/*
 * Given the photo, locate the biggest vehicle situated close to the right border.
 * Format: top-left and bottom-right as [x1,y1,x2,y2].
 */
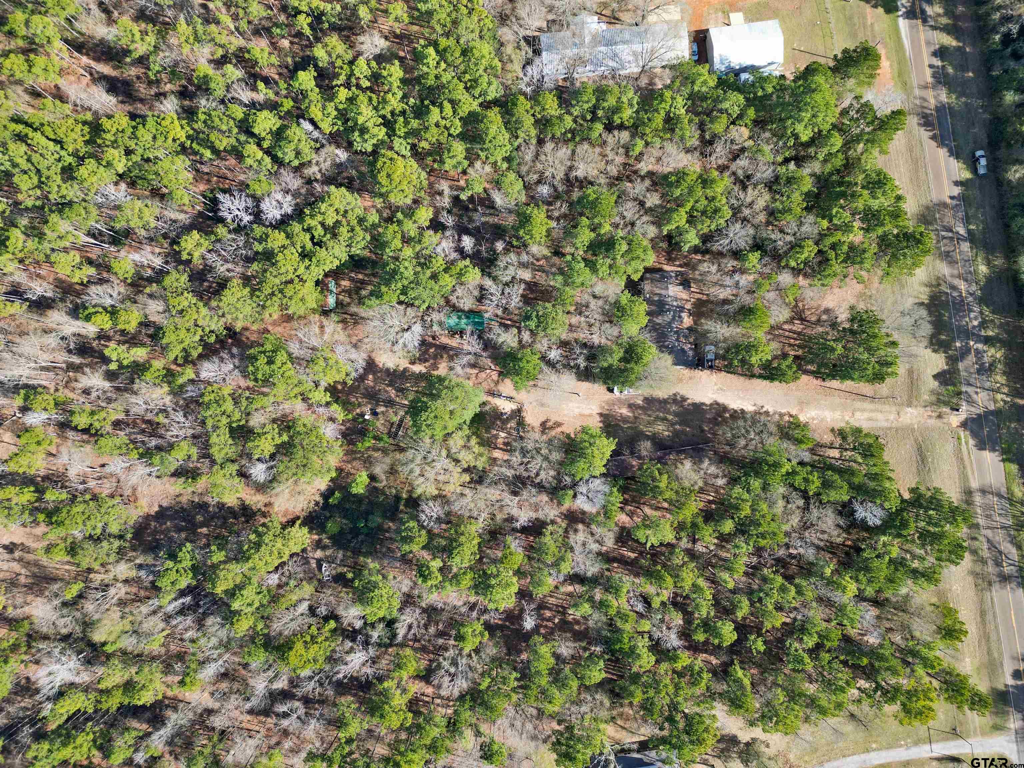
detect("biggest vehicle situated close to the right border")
[974,146,990,173]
